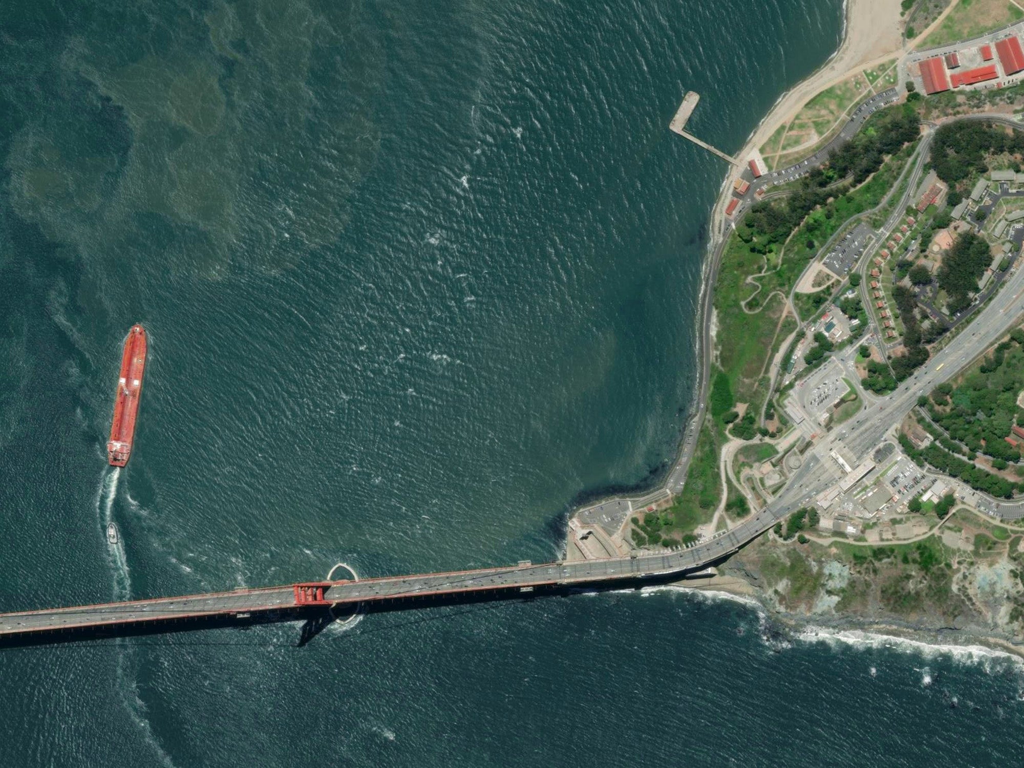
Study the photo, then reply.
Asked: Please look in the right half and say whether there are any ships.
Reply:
No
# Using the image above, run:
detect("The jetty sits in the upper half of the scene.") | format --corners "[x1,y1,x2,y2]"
[669,91,739,167]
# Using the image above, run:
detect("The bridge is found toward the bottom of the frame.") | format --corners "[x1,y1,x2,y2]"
[0,507,776,636]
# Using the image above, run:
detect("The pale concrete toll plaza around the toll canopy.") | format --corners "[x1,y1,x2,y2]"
[813,429,865,484]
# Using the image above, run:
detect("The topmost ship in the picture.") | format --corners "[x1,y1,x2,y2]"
[107,324,148,466]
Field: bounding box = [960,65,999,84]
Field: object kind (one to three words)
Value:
building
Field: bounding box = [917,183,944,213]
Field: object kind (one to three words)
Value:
building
